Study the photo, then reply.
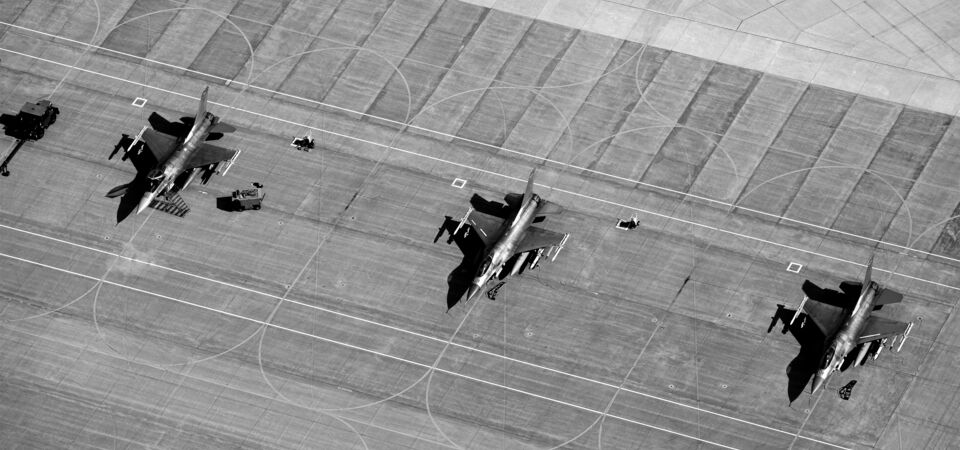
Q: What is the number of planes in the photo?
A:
3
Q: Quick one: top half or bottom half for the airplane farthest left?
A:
top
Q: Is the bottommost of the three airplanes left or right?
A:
right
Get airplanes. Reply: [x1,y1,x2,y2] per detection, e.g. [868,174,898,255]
[452,170,571,302]
[790,256,914,396]
[128,87,242,216]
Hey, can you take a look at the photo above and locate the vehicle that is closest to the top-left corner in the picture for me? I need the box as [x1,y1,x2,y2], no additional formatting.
[16,98,60,140]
